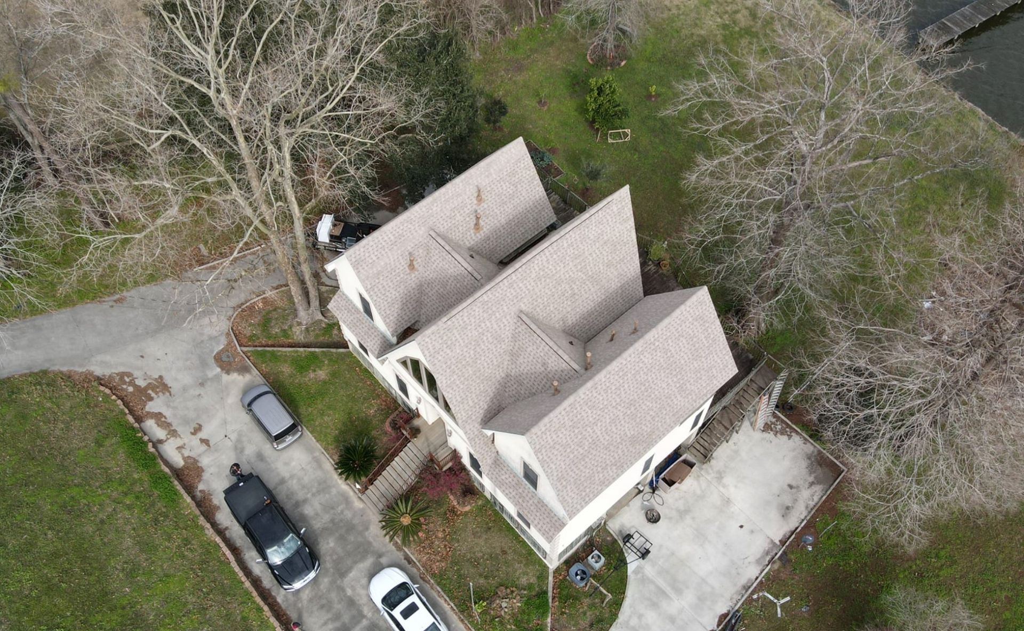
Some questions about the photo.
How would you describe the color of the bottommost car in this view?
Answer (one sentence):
The bottommost car is white.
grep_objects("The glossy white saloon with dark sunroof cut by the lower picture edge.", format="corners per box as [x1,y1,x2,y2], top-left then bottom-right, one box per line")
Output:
[370,566,453,631]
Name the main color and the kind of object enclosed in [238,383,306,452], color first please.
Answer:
gray car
